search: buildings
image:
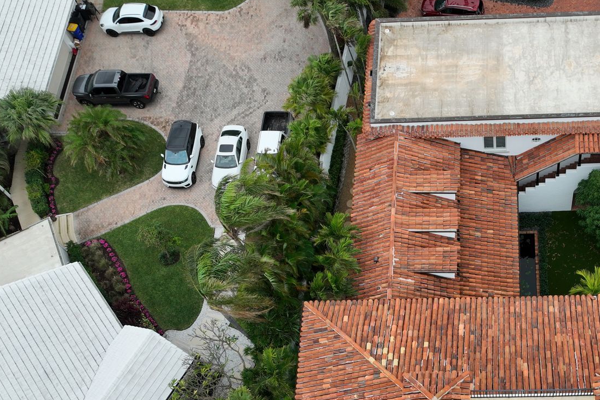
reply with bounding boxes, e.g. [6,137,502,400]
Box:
[0,217,205,400]
[0,0,89,129]
[293,10,600,400]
